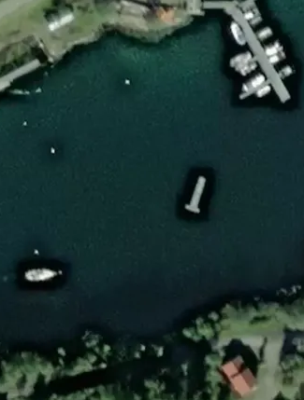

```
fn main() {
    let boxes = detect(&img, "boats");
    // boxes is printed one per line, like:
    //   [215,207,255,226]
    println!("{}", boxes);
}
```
[257,85,271,96]
[234,58,250,70]
[250,17,262,25]
[258,28,272,39]
[242,63,256,73]
[279,68,292,77]
[265,44,281,57]
[232,23,246,46]
[244,12,254,21]
[268,54,283,64]
[24,269,58,281]
[244,74,266,90]
[231,49,250,63]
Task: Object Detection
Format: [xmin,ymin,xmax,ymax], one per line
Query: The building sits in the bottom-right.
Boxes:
[221,356,261,397]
